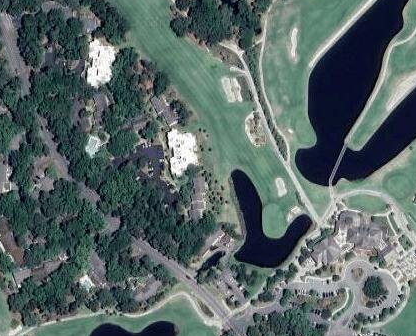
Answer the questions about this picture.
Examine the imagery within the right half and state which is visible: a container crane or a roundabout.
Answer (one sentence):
The feature located within the right half is a roundabout.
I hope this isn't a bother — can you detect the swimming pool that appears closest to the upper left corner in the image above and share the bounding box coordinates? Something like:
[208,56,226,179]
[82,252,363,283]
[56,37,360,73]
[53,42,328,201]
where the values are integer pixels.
[84,135,102,155]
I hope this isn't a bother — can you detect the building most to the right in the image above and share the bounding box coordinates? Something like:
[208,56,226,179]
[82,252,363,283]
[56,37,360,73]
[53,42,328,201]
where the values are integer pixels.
[333,208,397,257]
